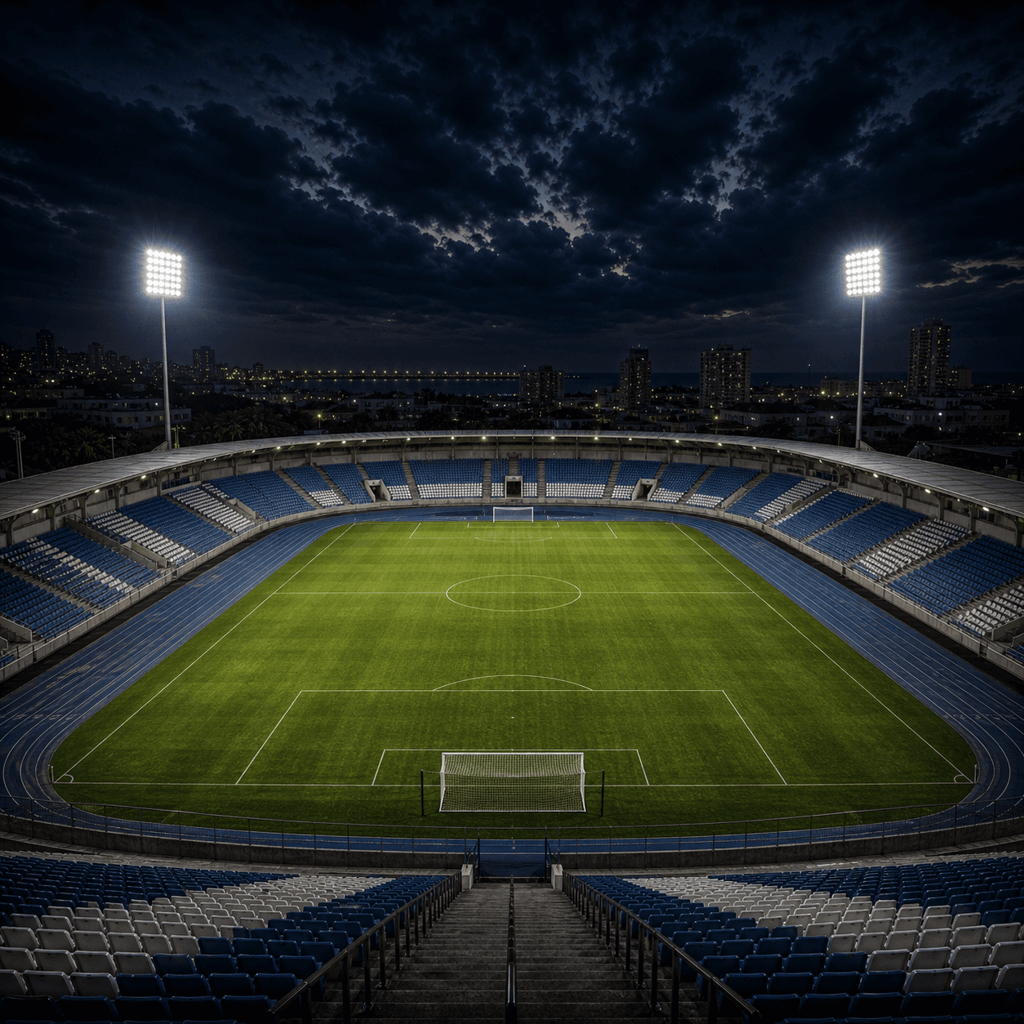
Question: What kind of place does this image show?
sports ground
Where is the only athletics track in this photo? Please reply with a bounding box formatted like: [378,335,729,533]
[0,507,1024,863]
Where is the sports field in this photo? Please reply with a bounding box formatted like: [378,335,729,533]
[62,521,962,838]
